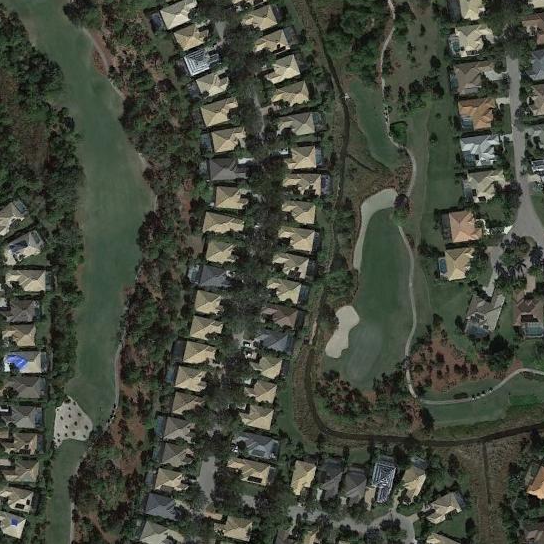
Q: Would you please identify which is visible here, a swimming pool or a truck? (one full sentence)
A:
The image shows a swimming pool.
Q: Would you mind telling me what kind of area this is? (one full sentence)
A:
What you see here is a residential area.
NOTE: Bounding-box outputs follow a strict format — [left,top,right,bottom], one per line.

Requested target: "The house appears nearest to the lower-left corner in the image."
[0,512,31,539]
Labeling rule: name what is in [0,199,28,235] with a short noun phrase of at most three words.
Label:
house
